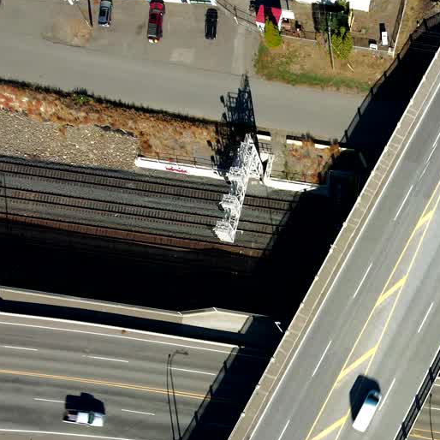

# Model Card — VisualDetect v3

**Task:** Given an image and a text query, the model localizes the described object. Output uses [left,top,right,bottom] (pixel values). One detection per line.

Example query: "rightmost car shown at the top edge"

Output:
[203,9,219,41]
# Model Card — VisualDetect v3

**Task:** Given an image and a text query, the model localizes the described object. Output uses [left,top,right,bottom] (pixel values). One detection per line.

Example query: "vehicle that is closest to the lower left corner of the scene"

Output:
[61,409,107,426]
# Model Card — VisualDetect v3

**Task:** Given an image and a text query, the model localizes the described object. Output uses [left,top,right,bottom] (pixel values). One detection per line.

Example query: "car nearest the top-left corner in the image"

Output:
[97,0,113,27]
